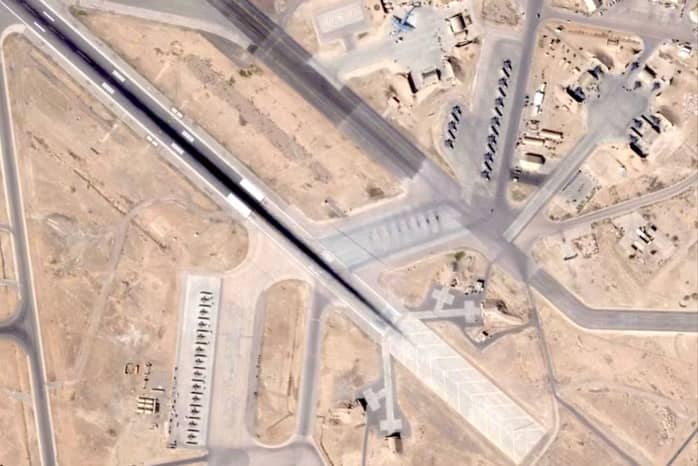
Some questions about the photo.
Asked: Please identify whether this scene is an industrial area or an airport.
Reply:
airport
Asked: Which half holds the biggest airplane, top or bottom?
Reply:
top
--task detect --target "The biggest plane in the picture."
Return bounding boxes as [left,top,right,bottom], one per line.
[394,11,414,31]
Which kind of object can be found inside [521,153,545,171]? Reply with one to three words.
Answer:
hangar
